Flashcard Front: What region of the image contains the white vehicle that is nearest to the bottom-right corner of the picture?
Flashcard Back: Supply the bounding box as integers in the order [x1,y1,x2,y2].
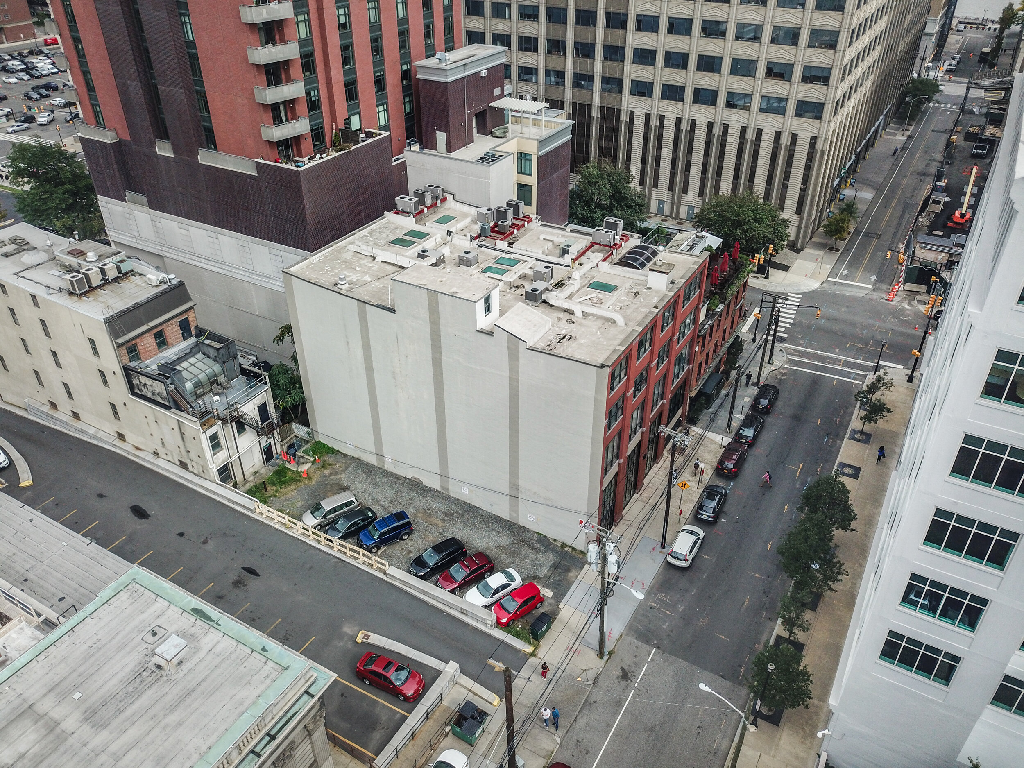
[666,521,708,567]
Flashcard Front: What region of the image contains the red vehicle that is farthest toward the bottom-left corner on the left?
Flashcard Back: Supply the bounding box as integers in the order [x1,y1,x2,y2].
[354,648,427,700]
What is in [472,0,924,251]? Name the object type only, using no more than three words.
building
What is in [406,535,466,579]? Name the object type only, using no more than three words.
car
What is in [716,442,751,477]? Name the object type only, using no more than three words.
car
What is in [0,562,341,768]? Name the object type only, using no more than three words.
building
